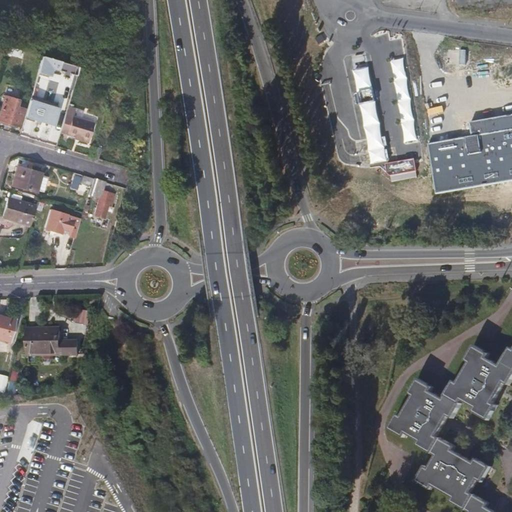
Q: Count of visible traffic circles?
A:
two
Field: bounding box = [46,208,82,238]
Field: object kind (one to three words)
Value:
house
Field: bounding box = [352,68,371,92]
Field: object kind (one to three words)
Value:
tent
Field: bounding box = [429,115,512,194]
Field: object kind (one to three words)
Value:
building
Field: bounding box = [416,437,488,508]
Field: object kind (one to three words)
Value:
building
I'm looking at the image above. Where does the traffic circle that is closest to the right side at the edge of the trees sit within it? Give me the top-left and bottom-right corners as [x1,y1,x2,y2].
[266,228,340,302]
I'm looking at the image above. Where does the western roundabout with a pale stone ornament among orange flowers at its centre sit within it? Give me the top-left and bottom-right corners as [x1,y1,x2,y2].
[117,246,192,321]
